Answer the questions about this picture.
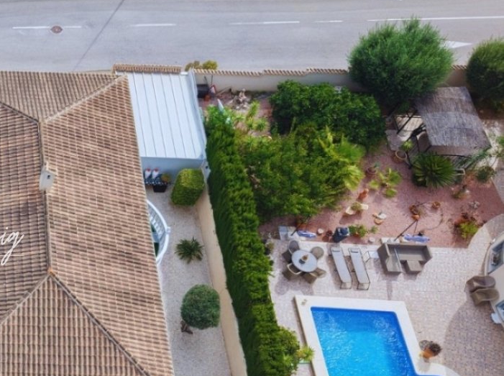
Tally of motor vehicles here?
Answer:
0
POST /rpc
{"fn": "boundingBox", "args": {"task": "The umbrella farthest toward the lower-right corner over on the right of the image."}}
[399,214,430,246]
